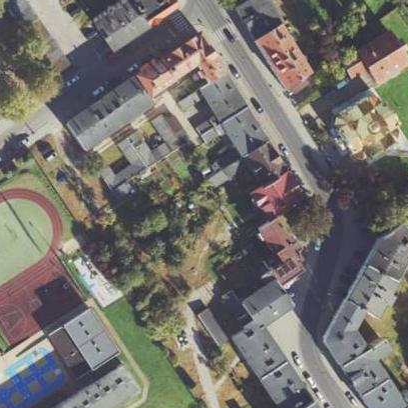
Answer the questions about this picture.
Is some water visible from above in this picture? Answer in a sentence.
No, the scene doesn't show any water.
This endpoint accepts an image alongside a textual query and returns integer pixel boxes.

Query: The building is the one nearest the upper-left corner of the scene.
[93,0,152,54]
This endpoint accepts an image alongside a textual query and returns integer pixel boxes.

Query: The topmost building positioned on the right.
[237,0,286,40]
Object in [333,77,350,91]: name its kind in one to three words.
vehicle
